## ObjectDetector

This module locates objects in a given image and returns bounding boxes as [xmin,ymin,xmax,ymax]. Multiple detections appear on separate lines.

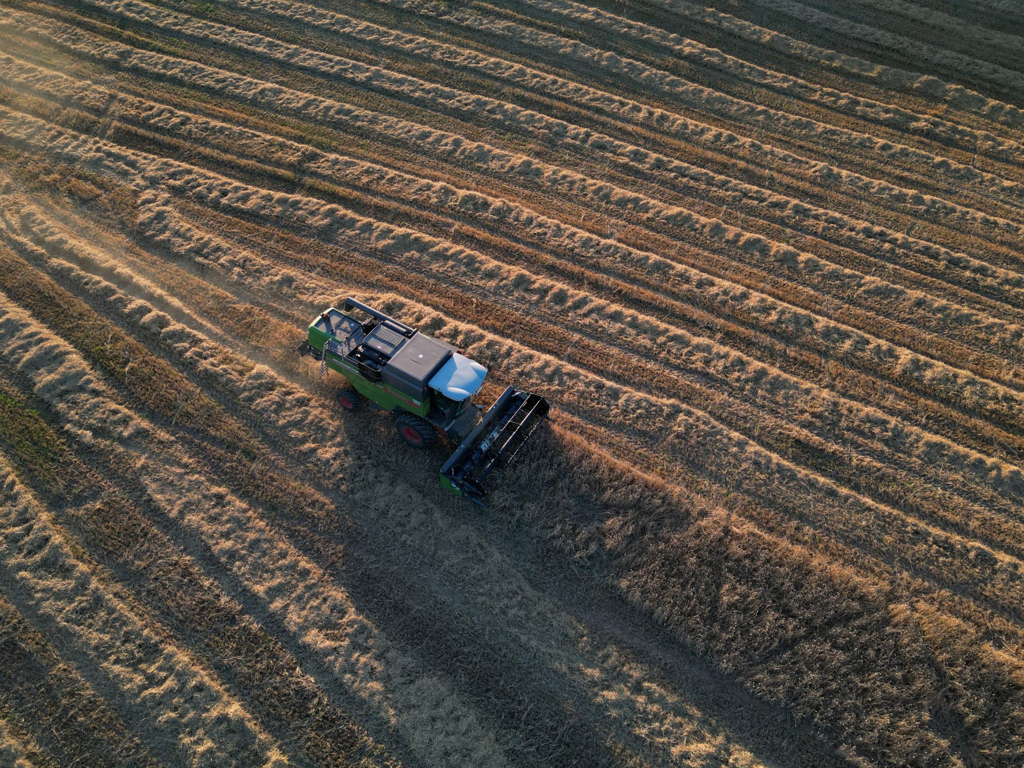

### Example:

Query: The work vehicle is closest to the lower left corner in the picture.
[297,296,554,509]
